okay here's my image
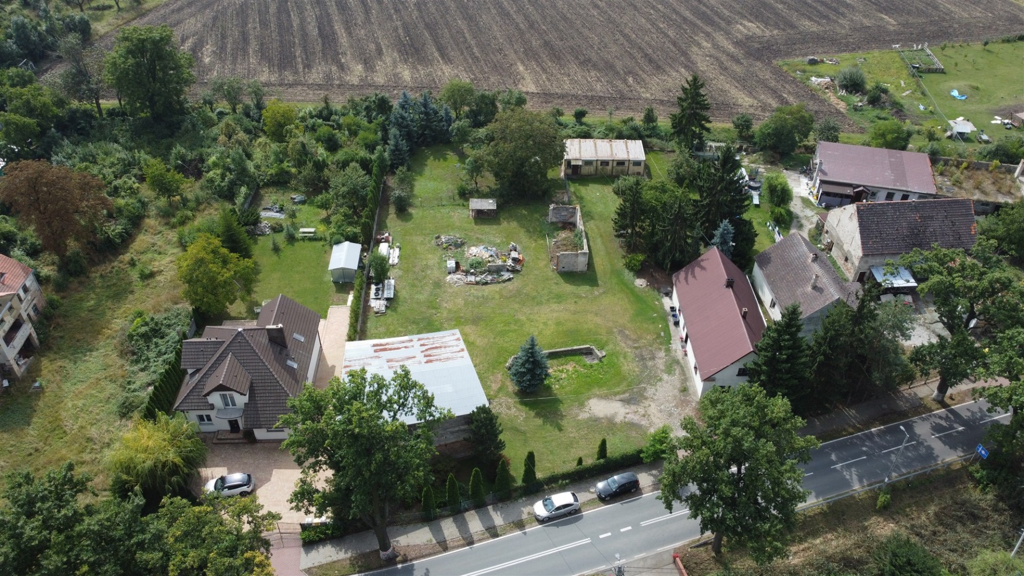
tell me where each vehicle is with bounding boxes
[532,488,581,520]
[204,470,256,497]
[593,468,640,500]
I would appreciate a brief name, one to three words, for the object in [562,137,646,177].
shed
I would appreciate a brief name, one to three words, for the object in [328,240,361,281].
shed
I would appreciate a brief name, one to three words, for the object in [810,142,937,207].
house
